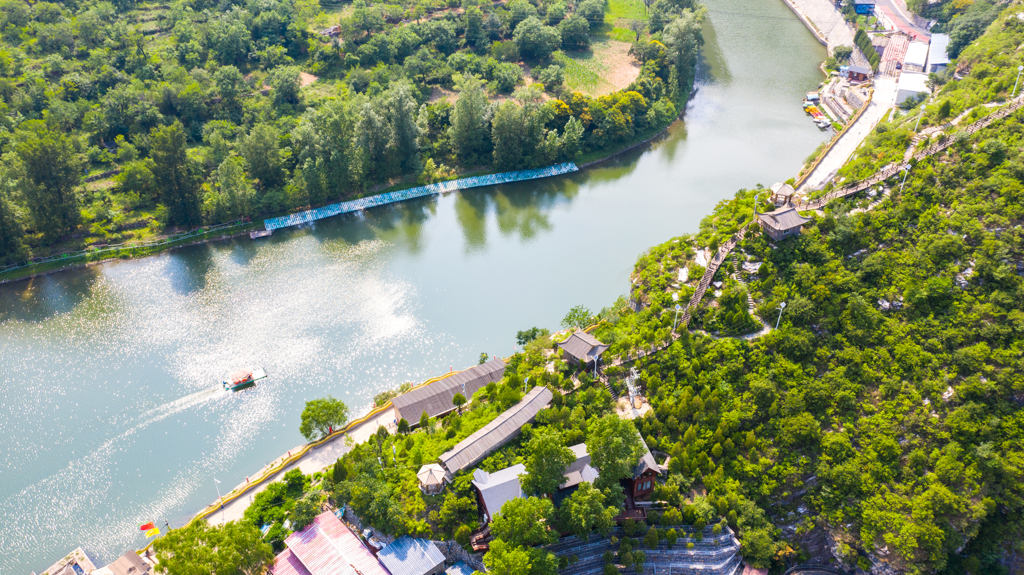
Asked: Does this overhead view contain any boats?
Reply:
Yes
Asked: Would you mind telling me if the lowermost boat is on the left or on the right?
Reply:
left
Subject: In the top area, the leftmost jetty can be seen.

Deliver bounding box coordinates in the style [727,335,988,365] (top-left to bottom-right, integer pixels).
[264,162,579,230]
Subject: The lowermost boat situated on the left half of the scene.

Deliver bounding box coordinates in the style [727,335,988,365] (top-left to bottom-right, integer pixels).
[222,368,272,392]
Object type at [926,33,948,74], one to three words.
building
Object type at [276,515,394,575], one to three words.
shed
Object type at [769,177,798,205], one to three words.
building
